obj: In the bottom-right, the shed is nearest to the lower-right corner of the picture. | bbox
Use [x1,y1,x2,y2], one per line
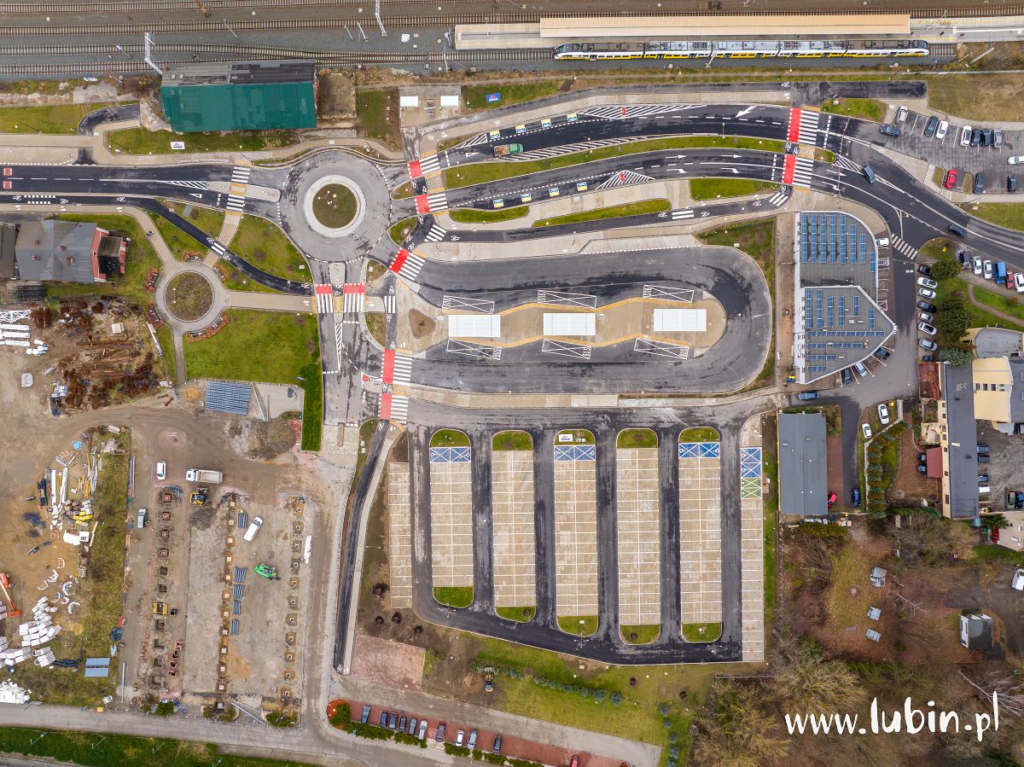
[960,607,993,648]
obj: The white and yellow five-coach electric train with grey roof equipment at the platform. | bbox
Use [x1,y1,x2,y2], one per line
[554,38,935,61]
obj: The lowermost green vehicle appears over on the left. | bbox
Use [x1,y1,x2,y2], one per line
[254,565,282,582]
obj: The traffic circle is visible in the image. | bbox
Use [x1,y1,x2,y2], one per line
[278,149,391,262]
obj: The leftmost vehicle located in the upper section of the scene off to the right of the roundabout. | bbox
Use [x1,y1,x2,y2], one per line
[492,140,524,157]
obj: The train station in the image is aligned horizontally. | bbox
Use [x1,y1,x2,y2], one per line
[455,14,1024,51]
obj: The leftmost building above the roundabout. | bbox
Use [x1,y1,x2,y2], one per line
[161,60,321,134]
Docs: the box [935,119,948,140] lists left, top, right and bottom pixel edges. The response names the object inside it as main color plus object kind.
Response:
white vehicle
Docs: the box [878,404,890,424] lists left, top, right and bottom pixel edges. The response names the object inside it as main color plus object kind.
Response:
white vehicle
